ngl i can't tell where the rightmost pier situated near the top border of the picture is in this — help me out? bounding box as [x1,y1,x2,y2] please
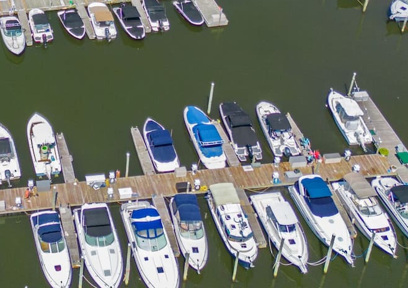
[193,0,229,30]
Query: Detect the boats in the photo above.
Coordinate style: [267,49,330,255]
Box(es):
[110,5,143,41]
[203,173,255,271]
[250,195,307,274]
[144,118,179,174]
[330,180,399,260]
[258,101,301,161]
[172,193,208,274]
[88,1,116,45]
[186,106,231,170]
[364,179,408,243]
[0,122,22,190]
[120,202,172,288]
[172,0,203,27]
[28,8,55,49]
[57,9,85,41]
[30,211,71,288]
[328,88,374,156]
[143,0,171,35]
[220,103,263,166]
[0,16,26,57]
[388,0,408,26]
[27,111,64,180]
[291,173,355,267]
[79,204,126,288]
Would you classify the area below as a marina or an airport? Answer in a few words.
marina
